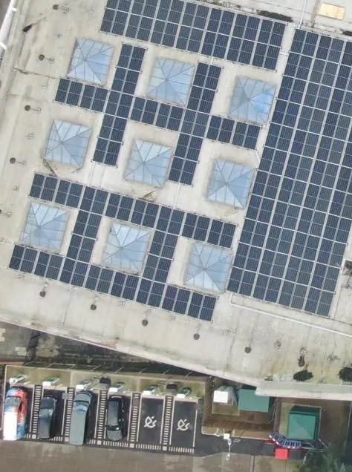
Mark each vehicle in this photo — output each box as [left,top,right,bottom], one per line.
[64,387,95,444]
[35,393,60,442]
[103,394,129,441]
[1,386,31,443]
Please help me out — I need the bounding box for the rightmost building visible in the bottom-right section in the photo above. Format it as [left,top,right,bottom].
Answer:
[279,402,322,441]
